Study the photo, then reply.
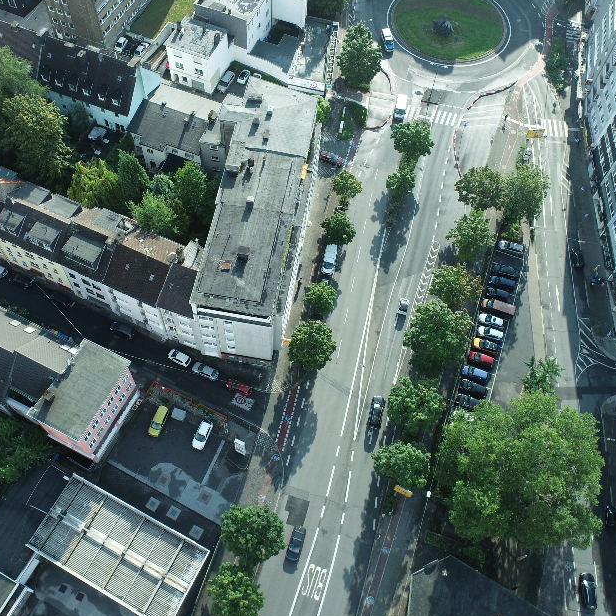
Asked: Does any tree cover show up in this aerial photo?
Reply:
Yes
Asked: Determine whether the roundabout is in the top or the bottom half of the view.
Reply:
top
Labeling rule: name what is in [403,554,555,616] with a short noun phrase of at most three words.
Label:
building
